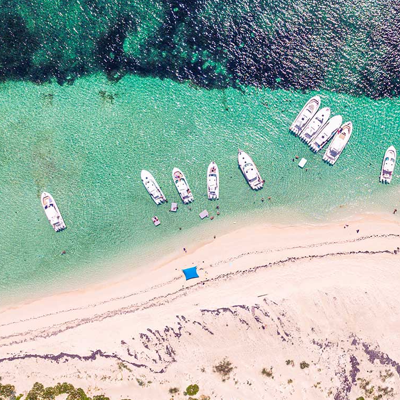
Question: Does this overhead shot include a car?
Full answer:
No, I find no car anywhere in the image.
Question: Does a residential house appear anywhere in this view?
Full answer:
No, I can't see a single residential house in this photo.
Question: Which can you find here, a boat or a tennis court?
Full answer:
I can see a boat in this picture.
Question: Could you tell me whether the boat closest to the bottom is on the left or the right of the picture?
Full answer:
The boat closest to the bottom sits on the left side.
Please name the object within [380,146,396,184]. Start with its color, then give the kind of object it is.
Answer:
white boat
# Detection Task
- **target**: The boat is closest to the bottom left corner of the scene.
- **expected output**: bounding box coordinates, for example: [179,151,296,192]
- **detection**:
[42,193,67,235]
